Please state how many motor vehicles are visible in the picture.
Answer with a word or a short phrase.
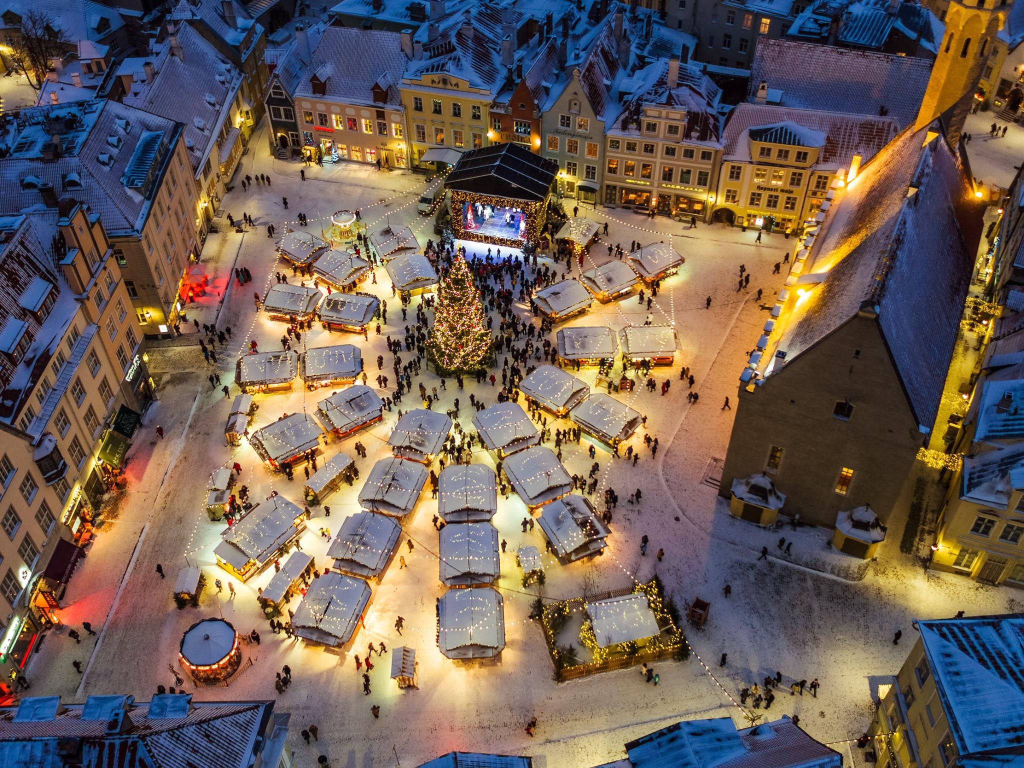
one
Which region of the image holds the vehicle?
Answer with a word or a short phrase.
top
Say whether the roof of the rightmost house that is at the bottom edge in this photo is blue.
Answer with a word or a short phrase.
Yes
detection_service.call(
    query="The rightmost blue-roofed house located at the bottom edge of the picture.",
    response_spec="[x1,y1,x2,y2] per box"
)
[865,615,1024,768]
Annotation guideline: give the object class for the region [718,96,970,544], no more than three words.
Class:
building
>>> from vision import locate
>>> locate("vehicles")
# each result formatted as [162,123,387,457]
[416,182,441,217]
